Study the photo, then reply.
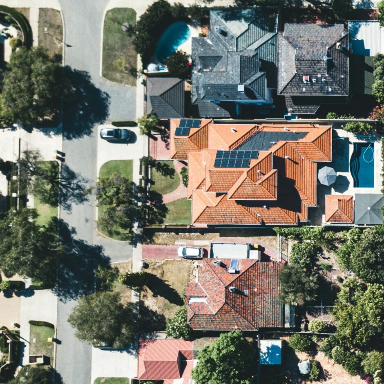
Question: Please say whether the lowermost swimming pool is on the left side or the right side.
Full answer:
The lowermost swimming pool sits on the right side.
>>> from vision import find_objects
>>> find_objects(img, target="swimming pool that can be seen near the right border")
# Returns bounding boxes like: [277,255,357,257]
[348,140,376,189]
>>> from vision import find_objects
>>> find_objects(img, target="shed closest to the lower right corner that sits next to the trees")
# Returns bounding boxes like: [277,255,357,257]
[259,339,285,365]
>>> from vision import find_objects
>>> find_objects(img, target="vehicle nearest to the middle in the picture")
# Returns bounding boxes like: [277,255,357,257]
[178,245,205,258]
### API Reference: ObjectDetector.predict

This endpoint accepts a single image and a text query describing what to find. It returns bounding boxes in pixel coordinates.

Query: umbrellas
[319,167,336,185]
[354,194,384,224]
